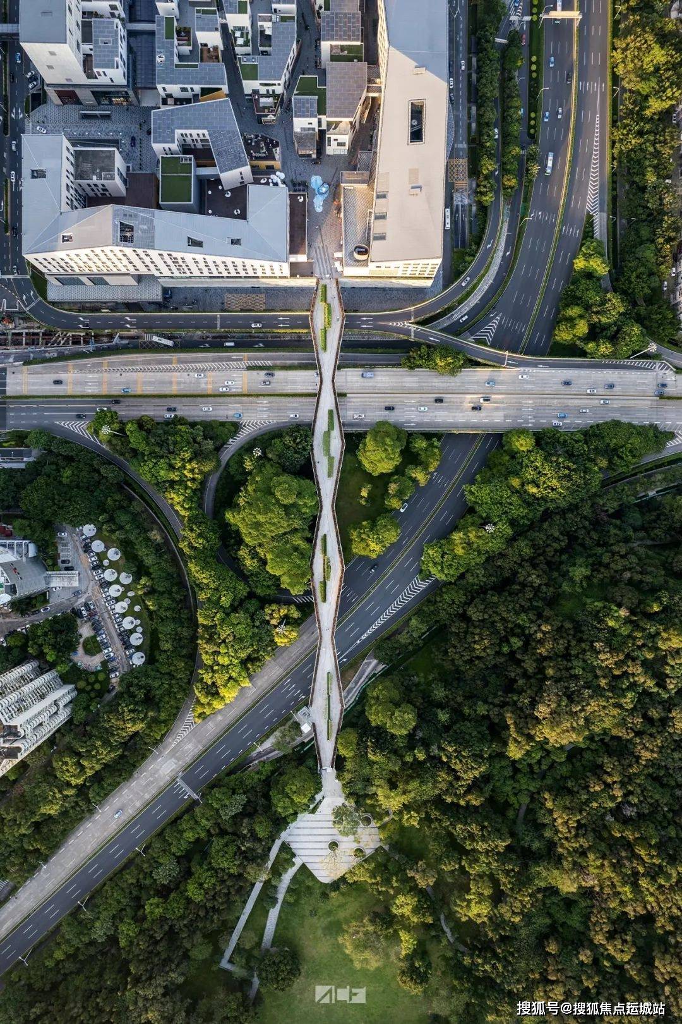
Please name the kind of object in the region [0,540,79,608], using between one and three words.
building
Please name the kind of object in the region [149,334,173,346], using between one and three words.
vehicle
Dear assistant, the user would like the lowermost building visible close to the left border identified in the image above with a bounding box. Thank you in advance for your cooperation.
[0,657,77,759]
